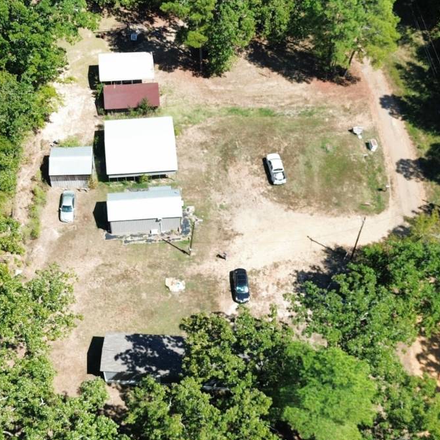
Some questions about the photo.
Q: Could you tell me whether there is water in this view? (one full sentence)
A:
No, the picture contains no water.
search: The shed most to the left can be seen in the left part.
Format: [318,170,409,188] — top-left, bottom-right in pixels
[49,149,92,187]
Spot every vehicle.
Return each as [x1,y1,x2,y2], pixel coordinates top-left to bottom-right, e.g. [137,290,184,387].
[264,152,290,188]
[57,191,77,224]
[230,268,252,305]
